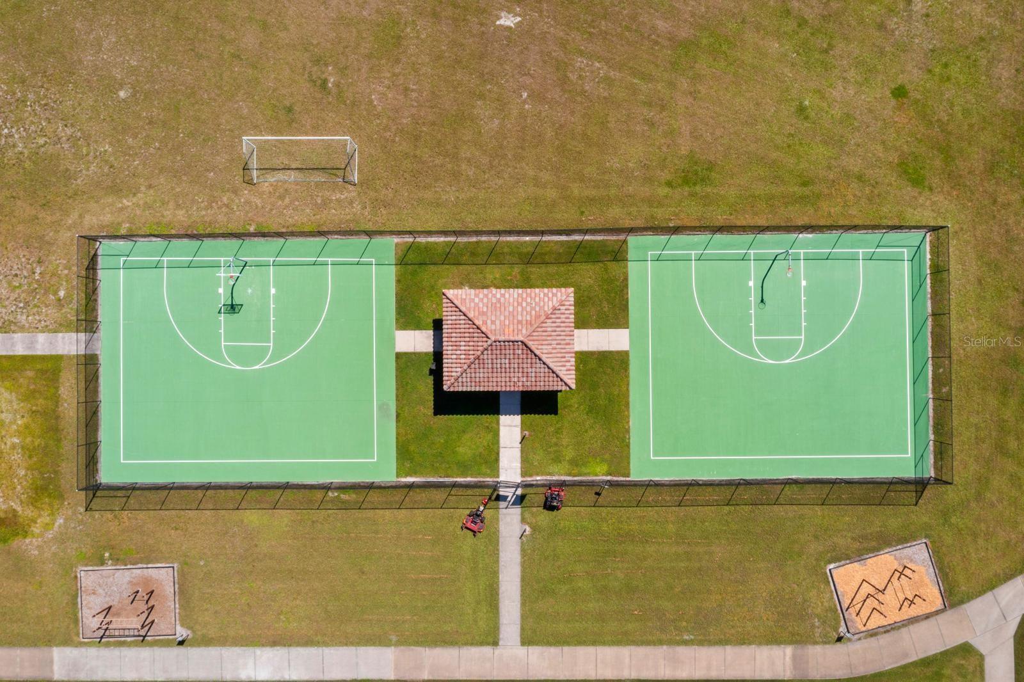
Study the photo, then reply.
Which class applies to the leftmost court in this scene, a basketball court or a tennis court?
basketball court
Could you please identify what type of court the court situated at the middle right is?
basketball court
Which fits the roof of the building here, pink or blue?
pink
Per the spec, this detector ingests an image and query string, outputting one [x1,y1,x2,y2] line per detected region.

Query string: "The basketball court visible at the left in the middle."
[100,239,396,483]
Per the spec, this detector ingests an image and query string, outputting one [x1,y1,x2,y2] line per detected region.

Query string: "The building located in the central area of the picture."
[441,287,576,392]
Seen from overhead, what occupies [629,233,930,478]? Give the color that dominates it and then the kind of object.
green basketball court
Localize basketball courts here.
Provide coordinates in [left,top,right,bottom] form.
[100,239,396,483]
[629,233,930,478]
